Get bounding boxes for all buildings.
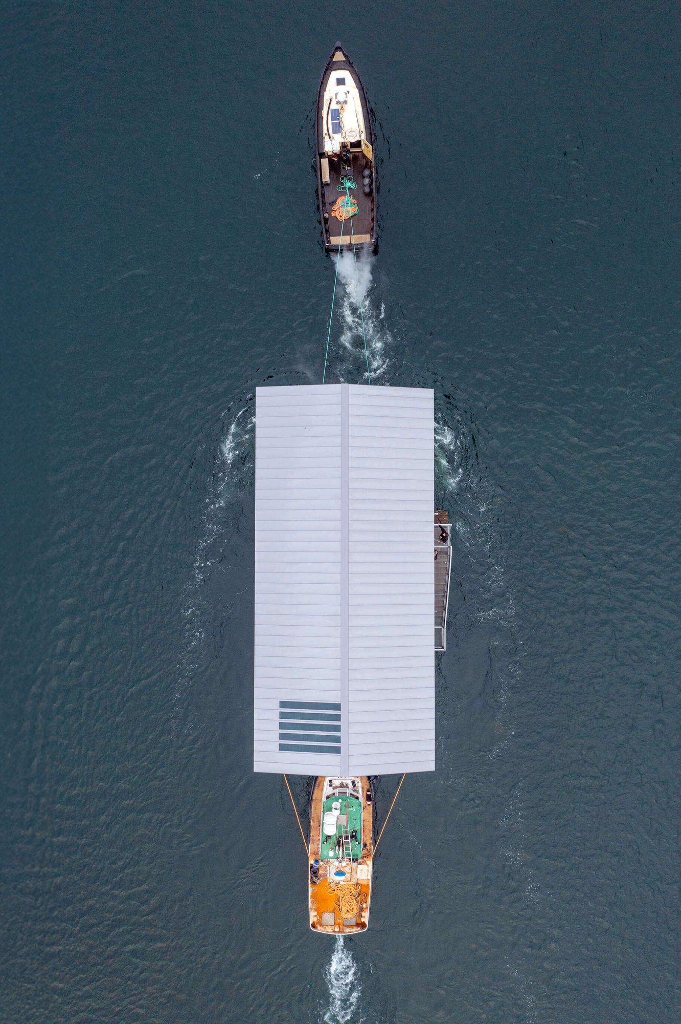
[253,384,453,778]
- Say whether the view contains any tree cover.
No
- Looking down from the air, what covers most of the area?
water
